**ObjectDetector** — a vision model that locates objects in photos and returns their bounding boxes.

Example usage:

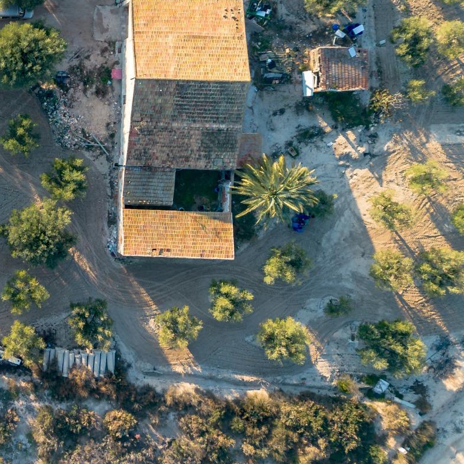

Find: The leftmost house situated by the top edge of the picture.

[109,0,251,171]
